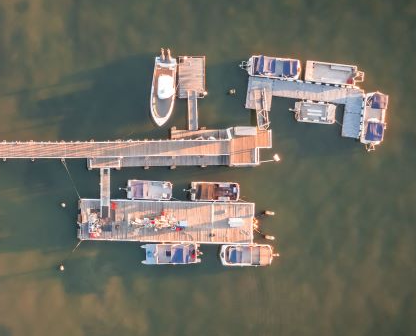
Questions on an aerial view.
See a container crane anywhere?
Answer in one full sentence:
No, there is no container crane in the image.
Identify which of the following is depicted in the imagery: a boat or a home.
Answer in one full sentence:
I can see a boat in this picture.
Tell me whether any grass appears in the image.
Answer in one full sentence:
No, there is no grass in the image.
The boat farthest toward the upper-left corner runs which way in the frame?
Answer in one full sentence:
What the image shows is the boat farthest toward the upper-left corner lying up and down.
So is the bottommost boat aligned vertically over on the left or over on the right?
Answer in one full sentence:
The bottommost boat aligned vertically sits on the right side.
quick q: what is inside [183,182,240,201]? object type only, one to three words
boat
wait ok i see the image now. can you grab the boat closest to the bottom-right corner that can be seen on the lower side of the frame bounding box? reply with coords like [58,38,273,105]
[220,243,280,266]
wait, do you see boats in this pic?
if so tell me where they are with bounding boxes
[304,60,363,86]
[119,180,173,200]
[289,101,336,121]
[183,182,240,201]
[220,243,280,266]
[152,48,177,126]
[358,94,389,152]
[240,54,304,79]
[140,243,204,266]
